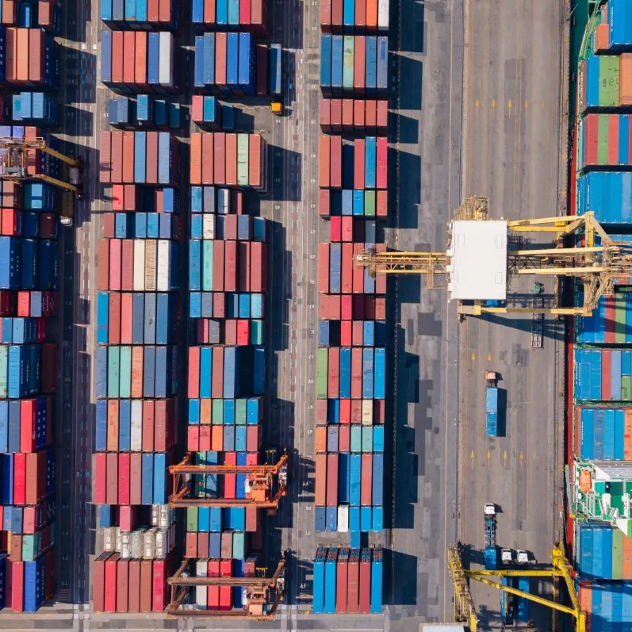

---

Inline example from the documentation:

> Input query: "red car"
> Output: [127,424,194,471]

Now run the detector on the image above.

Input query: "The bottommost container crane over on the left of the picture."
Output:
[167,545,289,619]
